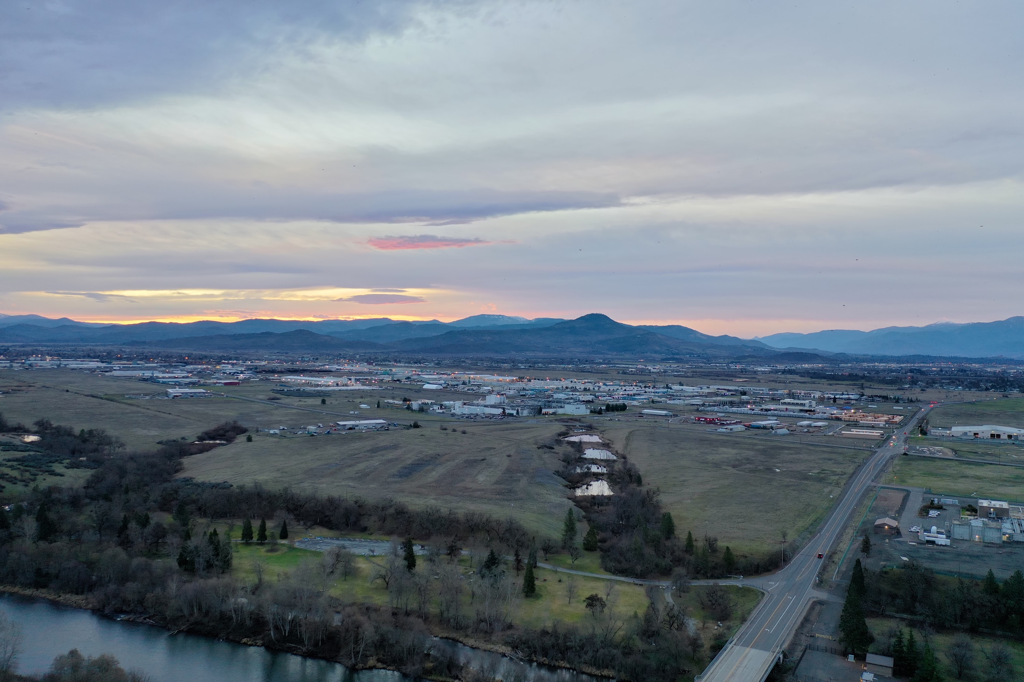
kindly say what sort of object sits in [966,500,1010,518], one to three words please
building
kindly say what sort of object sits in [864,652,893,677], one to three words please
shed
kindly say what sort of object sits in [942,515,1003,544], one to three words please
building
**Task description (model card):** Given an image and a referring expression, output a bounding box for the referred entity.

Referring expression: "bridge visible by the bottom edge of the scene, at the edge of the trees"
[688,627,785,682]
